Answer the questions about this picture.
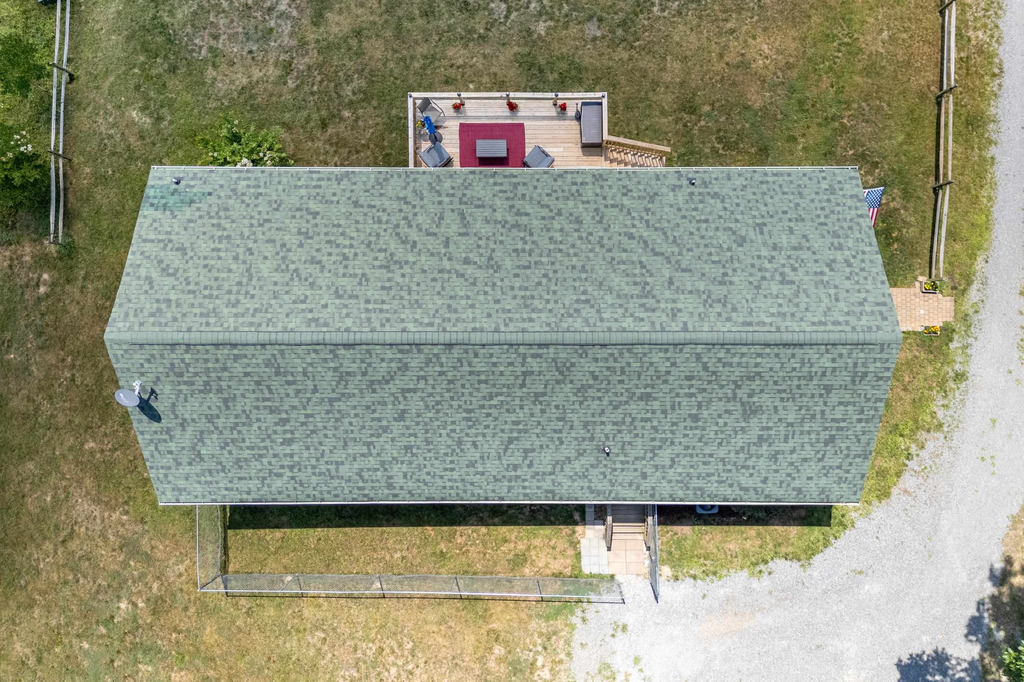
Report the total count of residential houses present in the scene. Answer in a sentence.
Only 1 residential house is visible.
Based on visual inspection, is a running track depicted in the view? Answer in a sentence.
No, the scene contains no running track.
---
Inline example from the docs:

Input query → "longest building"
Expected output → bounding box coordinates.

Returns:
[104,165,903,506]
